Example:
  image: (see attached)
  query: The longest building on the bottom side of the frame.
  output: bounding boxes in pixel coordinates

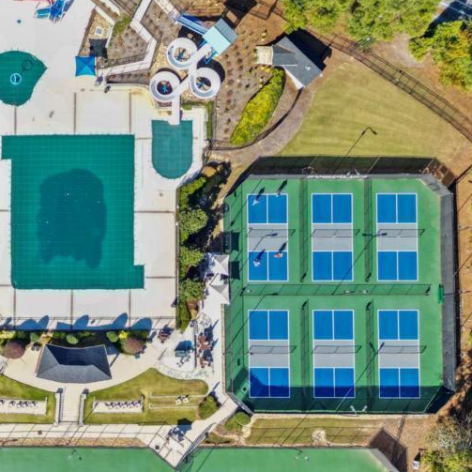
[36,344,111,384]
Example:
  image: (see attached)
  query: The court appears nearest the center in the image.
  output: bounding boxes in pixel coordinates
[248,194,292,282]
